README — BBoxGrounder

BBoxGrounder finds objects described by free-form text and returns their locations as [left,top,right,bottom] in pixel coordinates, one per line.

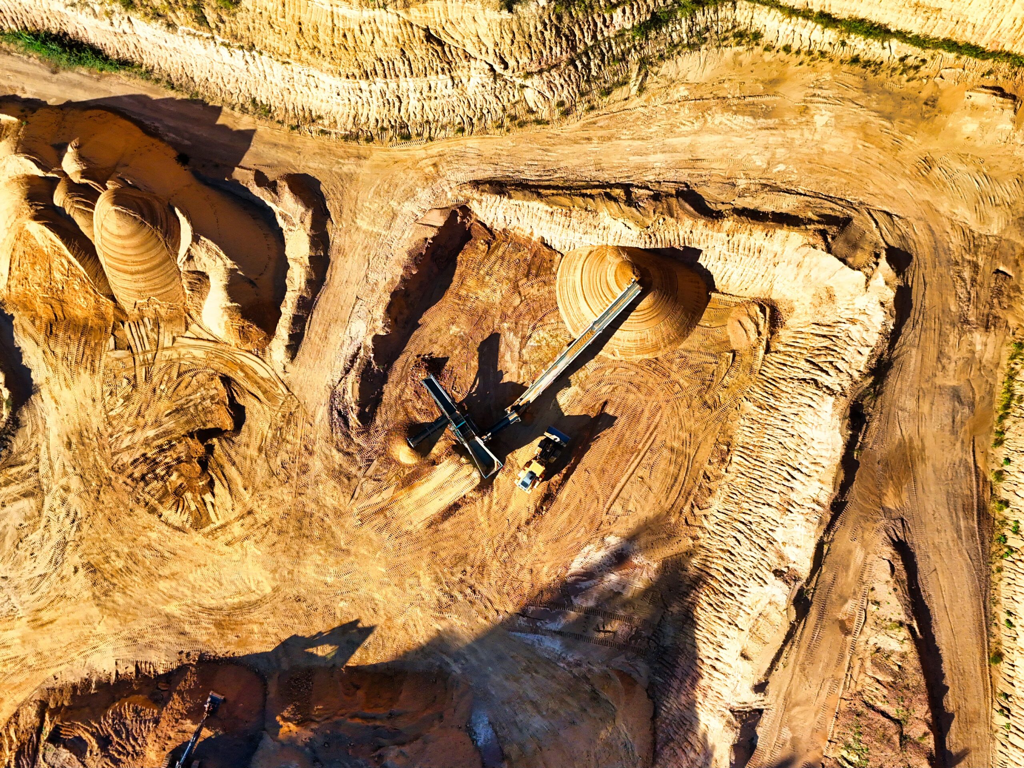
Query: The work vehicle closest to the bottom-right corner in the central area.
[513,424,570,498]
